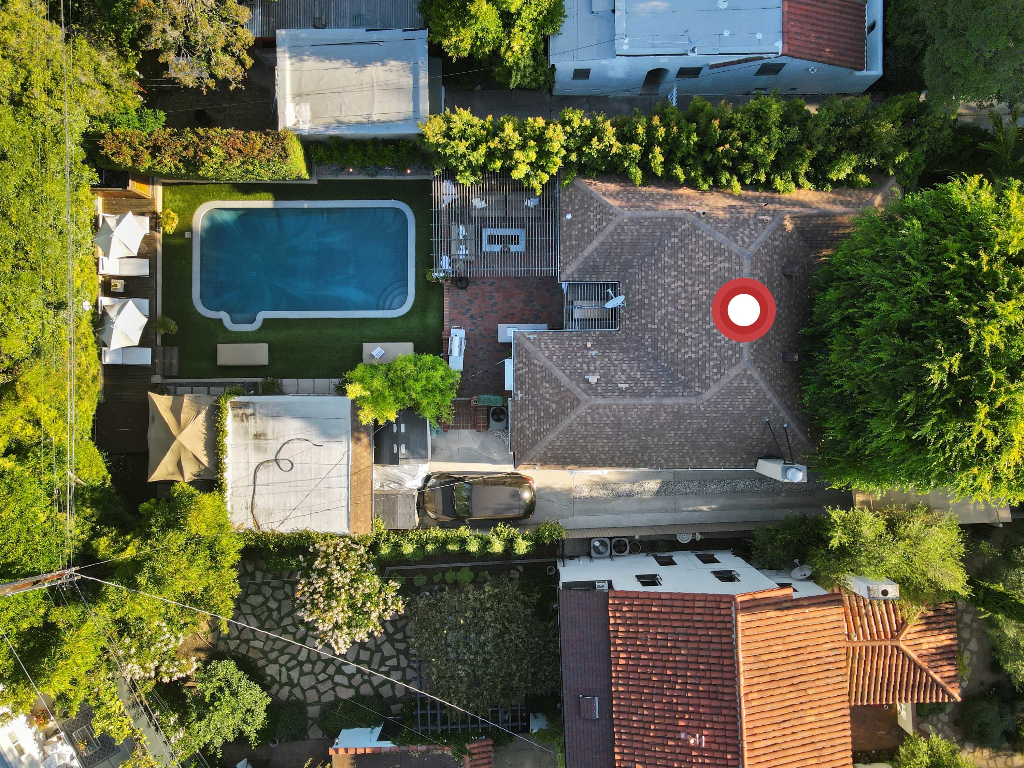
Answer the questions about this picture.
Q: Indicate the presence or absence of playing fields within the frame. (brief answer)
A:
No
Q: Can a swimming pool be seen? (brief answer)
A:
Yes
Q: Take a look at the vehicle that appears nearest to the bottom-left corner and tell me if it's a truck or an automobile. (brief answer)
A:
automobile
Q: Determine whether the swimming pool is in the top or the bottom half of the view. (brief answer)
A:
top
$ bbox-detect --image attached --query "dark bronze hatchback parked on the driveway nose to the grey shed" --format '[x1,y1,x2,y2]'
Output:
[423,475,535,529]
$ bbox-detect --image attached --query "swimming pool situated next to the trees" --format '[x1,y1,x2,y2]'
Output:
[192,200,414,332]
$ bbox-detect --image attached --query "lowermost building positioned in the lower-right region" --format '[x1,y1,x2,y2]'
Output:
[557,545,966,768]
